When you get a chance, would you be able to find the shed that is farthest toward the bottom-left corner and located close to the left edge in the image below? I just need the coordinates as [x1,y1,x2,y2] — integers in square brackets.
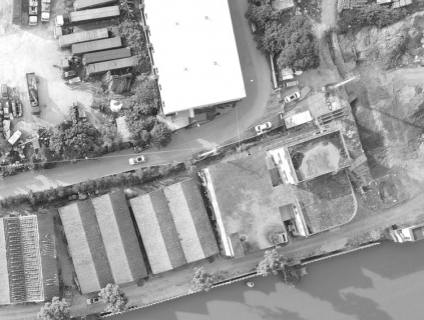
[0,215,60,305]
